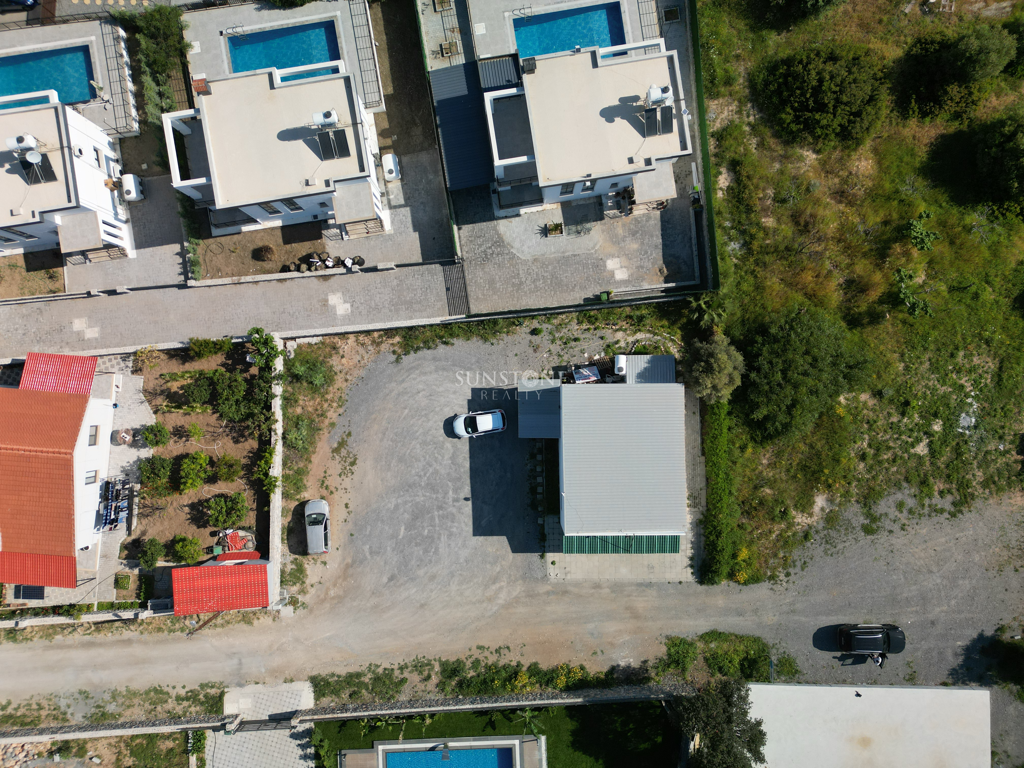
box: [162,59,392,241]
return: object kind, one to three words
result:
house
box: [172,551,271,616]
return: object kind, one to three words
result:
shed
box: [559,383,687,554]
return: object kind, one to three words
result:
building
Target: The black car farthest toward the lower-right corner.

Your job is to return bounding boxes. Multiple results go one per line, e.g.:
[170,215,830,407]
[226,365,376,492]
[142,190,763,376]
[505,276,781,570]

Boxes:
[835,624,904,670]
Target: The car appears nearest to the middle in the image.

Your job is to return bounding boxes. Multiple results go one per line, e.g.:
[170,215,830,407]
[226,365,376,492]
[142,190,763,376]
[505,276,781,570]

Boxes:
[454,410,507,438]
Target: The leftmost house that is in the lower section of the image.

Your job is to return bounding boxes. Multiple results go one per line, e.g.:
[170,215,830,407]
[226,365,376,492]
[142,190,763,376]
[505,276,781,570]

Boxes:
[0,352,117,588]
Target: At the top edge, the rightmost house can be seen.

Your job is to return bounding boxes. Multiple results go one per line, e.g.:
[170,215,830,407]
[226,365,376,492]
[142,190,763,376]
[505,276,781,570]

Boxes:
[482,37,692,222]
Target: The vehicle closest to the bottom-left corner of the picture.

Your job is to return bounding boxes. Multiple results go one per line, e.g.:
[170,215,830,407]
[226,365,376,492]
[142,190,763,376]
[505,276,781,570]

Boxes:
[304,499,332,555]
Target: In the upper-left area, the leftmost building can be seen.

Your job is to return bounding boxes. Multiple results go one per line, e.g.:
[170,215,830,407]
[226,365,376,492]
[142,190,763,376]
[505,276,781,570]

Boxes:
[0,89,141,268]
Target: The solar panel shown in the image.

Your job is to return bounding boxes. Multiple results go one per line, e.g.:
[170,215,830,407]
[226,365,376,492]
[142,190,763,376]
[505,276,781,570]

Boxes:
[21,584,48,599]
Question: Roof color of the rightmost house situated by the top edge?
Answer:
white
